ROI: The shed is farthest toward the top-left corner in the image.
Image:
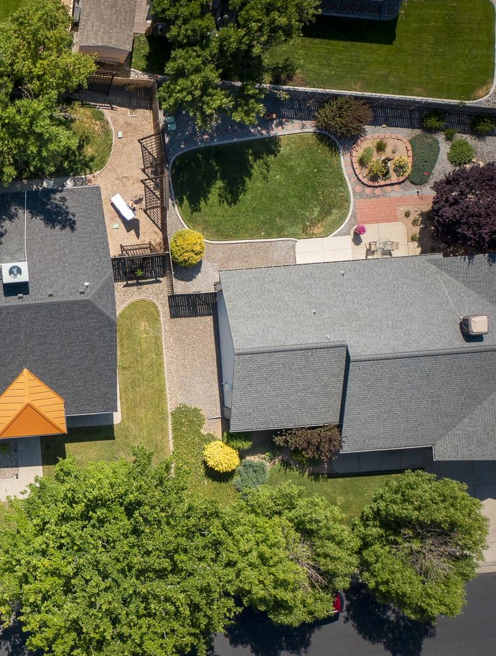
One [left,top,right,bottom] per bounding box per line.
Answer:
[79,0,138,67]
